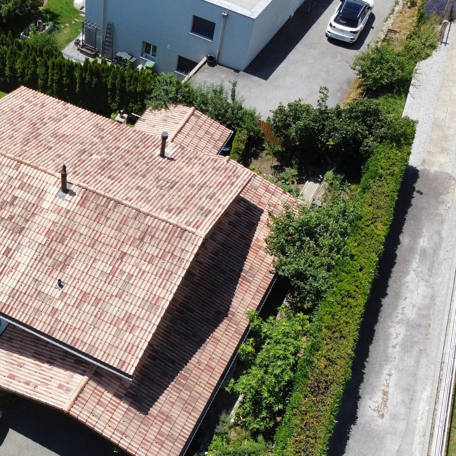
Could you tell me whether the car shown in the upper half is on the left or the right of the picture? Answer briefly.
right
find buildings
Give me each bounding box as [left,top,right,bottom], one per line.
[0,86,309,456]
[86,0,300,80]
